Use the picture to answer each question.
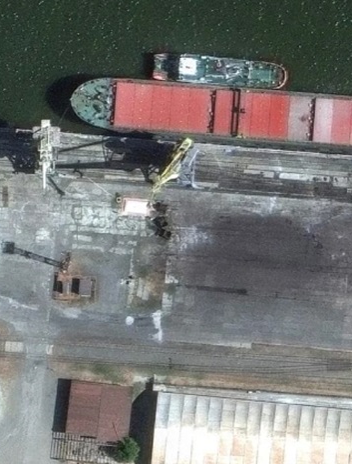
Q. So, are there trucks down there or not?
No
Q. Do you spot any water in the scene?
Yes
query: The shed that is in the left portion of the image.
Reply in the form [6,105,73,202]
[67,380,133,441]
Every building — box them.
[150,389,352,464]
[67,380,133,441]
